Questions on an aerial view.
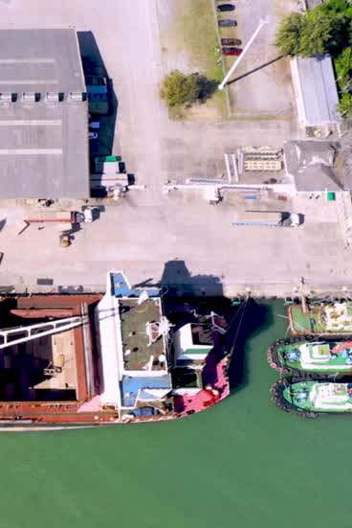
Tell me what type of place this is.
port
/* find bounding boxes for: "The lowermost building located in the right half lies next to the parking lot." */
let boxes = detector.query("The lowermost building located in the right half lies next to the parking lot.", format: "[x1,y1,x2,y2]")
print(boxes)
[281,140,351,196]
